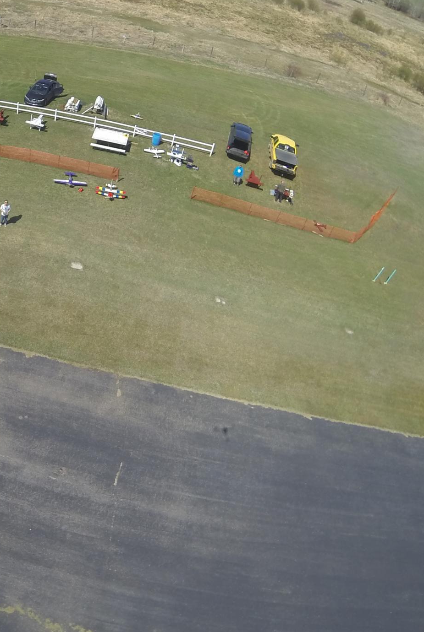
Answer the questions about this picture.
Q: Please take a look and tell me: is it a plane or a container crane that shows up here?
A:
plane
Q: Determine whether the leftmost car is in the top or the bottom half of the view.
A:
top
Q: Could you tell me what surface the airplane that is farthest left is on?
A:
grass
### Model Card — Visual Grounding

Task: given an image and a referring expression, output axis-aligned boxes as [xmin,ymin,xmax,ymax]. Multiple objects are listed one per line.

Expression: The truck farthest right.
[266,136,297,176]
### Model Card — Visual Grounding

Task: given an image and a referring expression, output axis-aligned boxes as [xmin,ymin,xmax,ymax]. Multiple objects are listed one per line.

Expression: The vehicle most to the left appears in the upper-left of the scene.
[25,72,63,107]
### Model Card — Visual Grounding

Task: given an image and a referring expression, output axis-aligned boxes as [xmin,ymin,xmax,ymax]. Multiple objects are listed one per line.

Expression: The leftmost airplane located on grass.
[55,167,88,188]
